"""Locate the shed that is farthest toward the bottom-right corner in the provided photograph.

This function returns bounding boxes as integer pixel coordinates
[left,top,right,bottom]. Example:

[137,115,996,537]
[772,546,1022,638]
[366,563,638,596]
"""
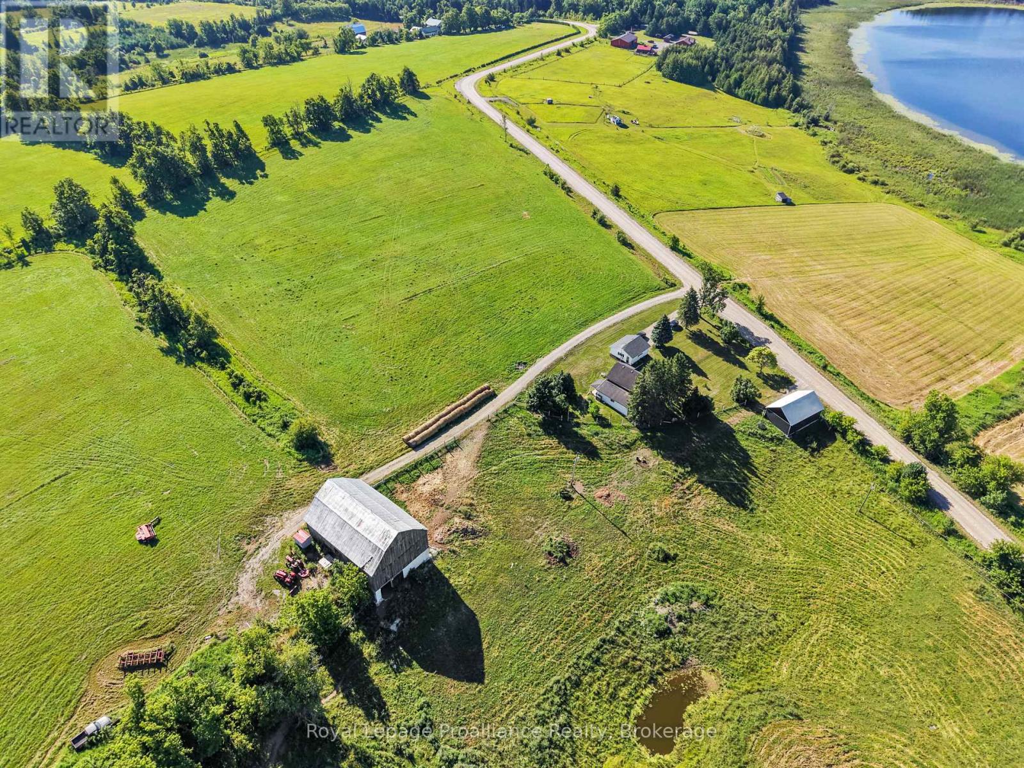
[766,396,824,437]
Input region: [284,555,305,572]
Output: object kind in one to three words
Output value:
work vehicle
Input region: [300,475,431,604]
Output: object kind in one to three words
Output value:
barn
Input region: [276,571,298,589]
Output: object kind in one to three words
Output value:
work vehicle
